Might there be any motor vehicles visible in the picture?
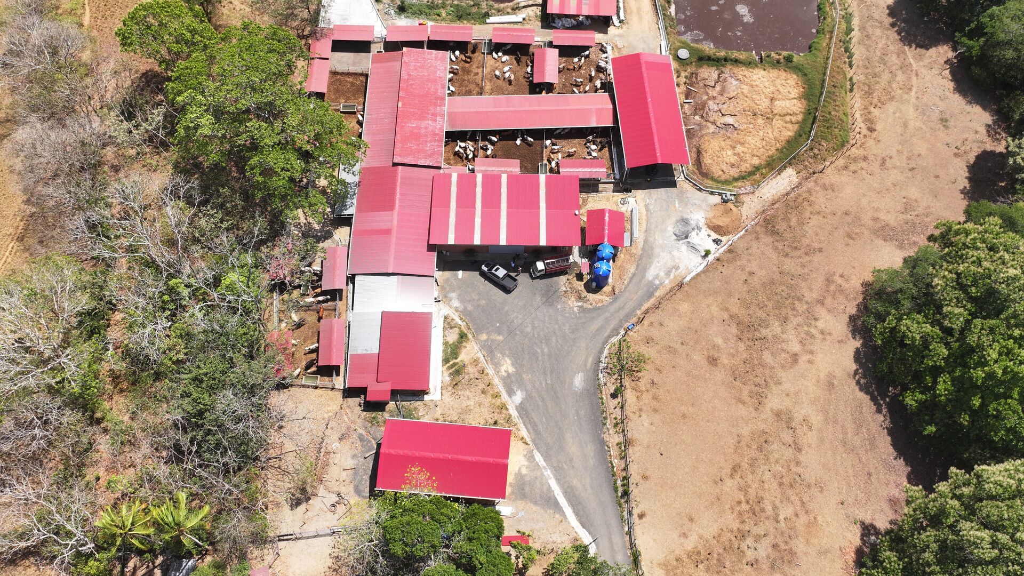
Yes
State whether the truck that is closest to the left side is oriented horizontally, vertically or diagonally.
diagonally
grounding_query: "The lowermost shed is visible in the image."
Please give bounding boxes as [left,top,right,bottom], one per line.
[376,417,511,508]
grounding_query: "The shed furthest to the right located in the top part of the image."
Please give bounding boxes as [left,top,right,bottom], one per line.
[610,52,692,182]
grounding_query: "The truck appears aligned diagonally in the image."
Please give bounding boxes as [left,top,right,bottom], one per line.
[478,261,521,295]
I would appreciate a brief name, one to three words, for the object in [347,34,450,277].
barn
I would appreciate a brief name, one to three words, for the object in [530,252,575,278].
truck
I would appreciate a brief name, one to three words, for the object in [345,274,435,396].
barn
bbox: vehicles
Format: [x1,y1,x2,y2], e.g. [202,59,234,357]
[478,261,521,295]
[530,252,575,278]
